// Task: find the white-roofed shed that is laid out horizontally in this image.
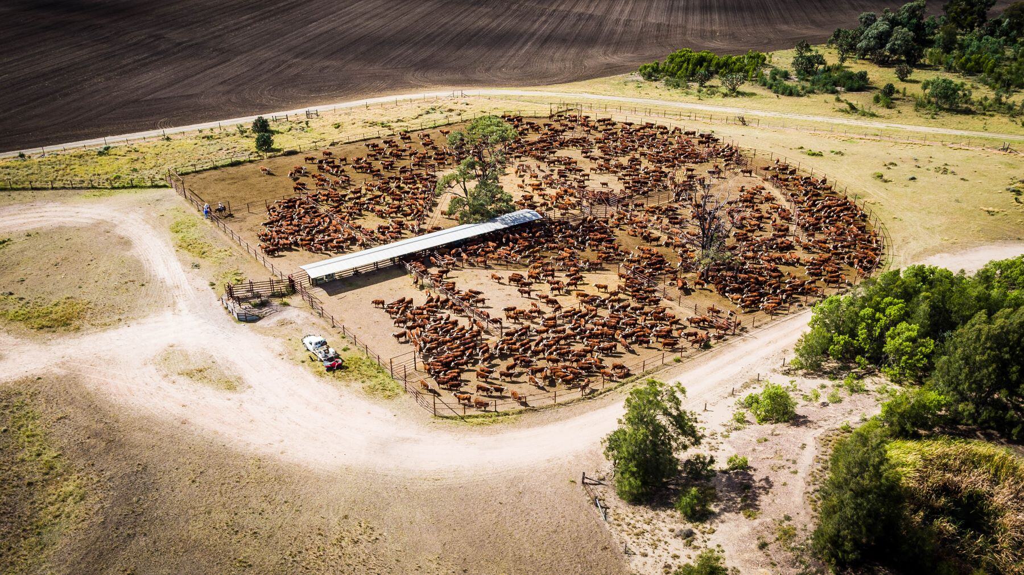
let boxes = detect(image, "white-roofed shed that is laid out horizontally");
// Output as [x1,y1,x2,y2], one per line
[302,208,542,293]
